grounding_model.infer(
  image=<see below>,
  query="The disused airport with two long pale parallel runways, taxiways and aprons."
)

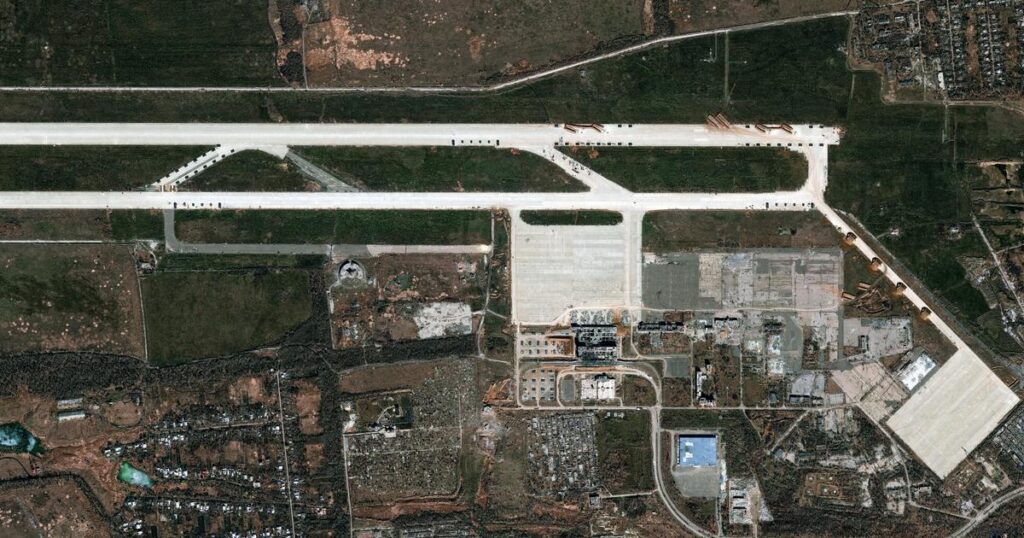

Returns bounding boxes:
[0,123,1019,479]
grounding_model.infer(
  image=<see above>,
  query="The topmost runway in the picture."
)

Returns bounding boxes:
[0,123,840,147]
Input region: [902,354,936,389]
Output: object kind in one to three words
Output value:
hangar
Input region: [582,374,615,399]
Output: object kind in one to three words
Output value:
building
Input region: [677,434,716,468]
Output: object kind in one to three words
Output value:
building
